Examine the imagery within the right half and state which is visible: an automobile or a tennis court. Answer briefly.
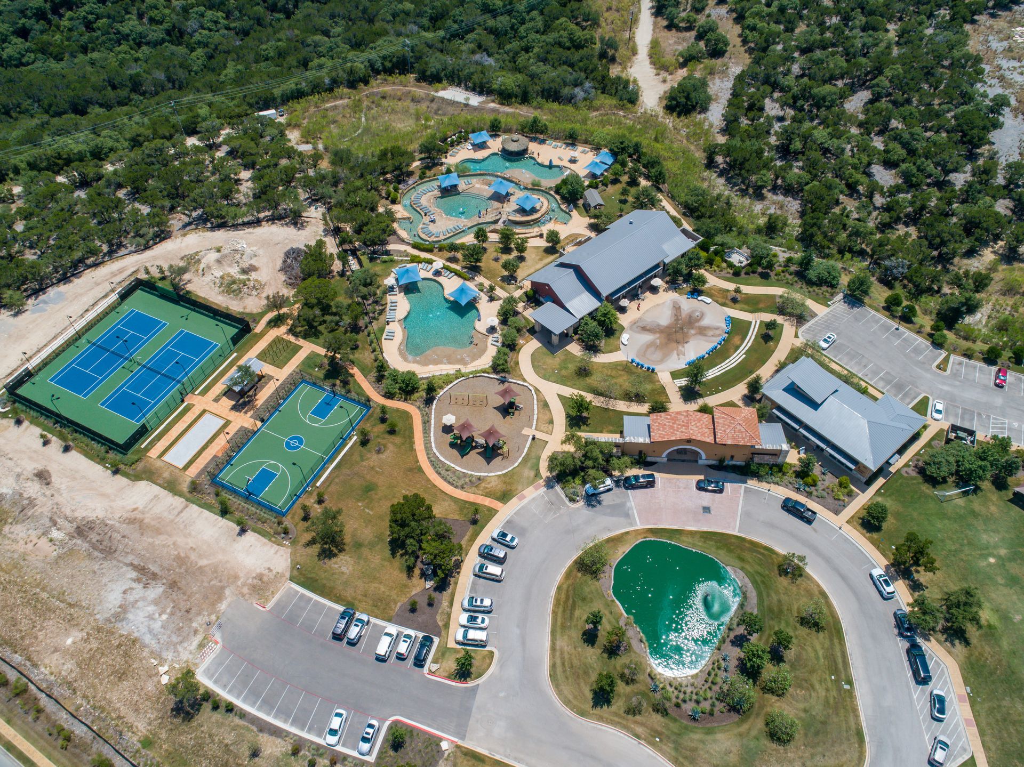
automobile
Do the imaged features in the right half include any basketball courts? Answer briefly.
No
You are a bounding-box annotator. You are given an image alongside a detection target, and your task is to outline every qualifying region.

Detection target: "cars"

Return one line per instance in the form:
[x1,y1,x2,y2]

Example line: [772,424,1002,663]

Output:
[327,710,348,747]
[277,106,285,118]
[463,596,493,612]
[932,400,945,421]
[697,479,724,494]
[332,610,355,641]
[395,629,418,661]
[929,689,948,724]
[625,475,655,490]
[358,719,380,757]
[893,608,916,639]
[479,545,507,563]
[491,530,520,547]
[822,333,838,350]
[473,563,505,582]
[871,571,895,600]
[346,614,370,646]
[459,613,489,630]
[586,477,613,495]
[412,634,435,670]
[375,627,399,662]
[994,368,1009,389]
[455,627,488,646]
[928,734,952,767]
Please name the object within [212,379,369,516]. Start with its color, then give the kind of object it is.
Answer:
green basketball court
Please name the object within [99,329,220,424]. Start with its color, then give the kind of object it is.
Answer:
blue tennis court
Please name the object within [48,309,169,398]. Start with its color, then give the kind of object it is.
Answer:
blue tennis court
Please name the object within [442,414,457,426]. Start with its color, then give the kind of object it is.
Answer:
white umbrella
